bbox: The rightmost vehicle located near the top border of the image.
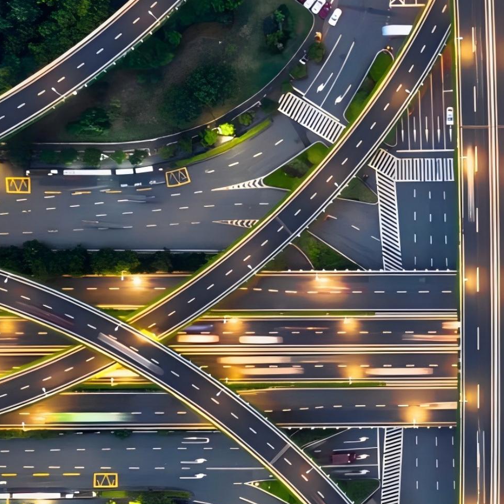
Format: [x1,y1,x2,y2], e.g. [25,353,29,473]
[380,22,410,37]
